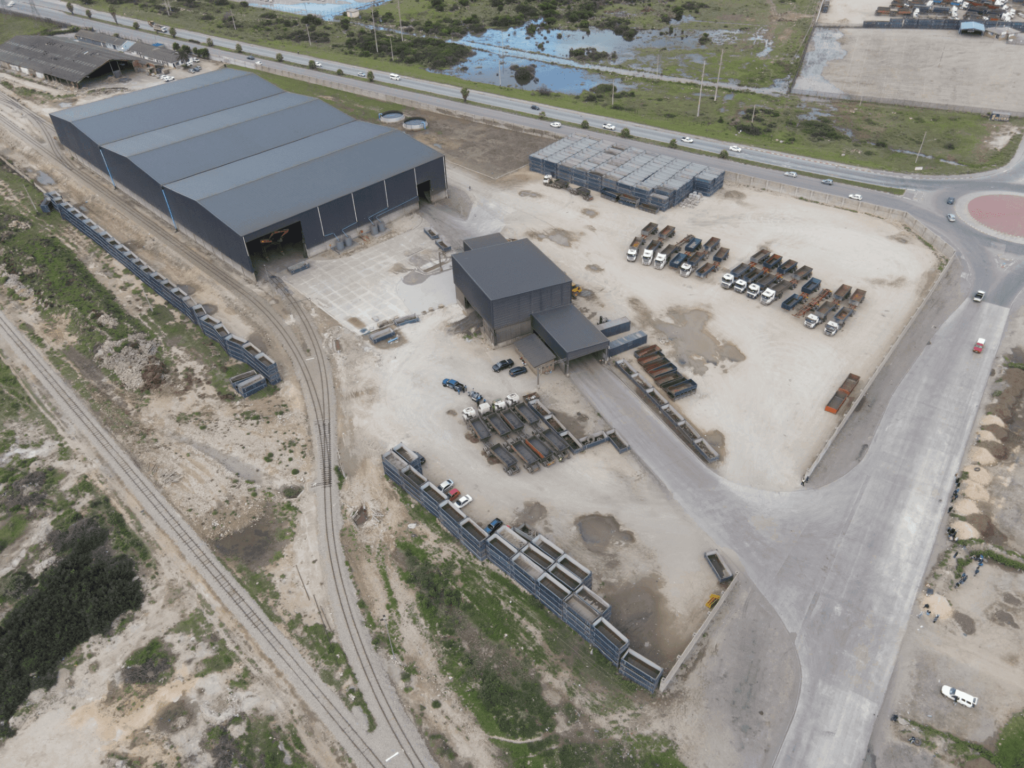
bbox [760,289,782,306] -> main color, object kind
white vehicle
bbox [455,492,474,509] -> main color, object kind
white car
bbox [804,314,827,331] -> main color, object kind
white vehicle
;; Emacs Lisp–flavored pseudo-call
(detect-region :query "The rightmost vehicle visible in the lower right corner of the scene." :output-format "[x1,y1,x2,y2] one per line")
[941,685,982,710]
